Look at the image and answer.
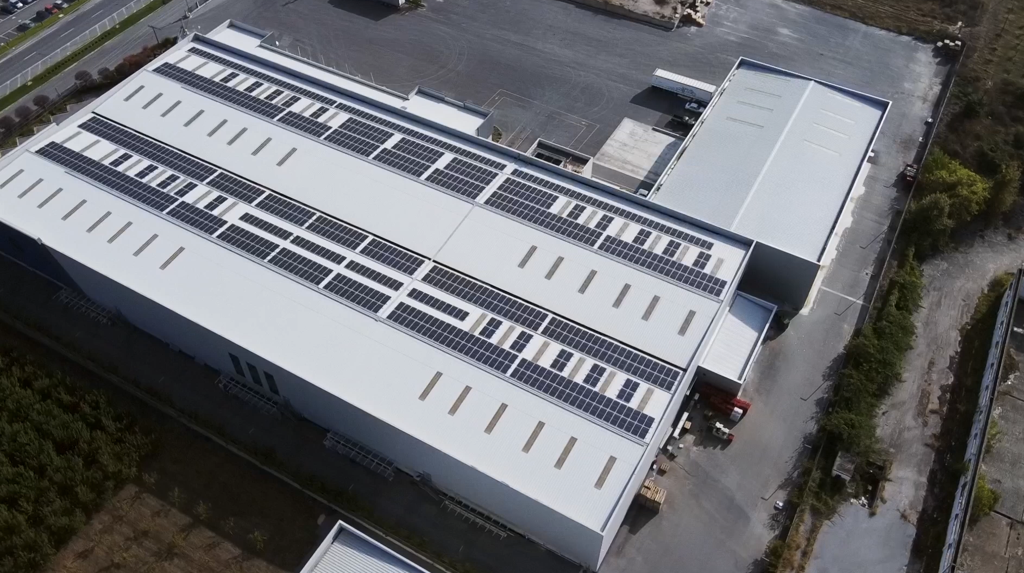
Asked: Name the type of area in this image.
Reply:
industrial area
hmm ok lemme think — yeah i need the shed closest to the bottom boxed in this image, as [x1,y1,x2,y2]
[300,520,431,573]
